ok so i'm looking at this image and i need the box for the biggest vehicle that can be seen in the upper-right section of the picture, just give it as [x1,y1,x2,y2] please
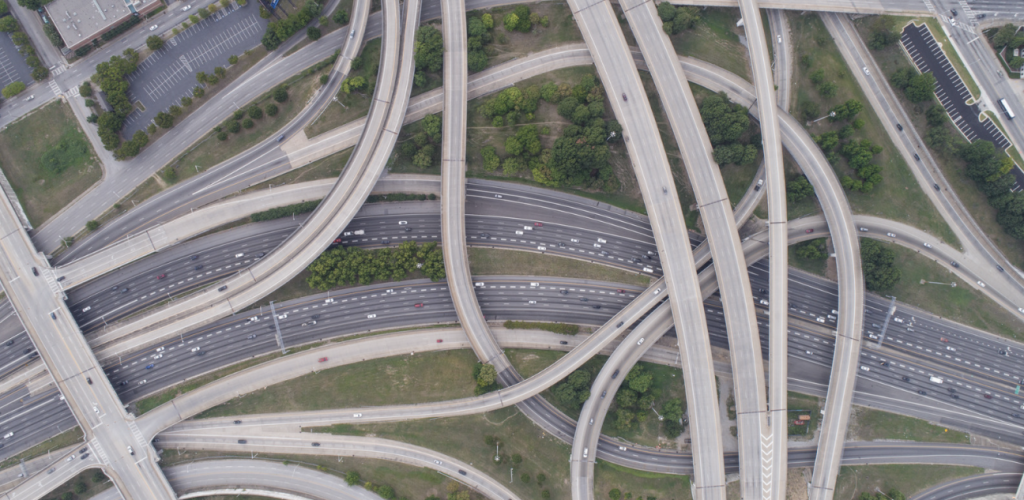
[998,98,1015,118]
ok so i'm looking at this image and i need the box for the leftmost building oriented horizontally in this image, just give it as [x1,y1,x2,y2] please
[42,0,170,56]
